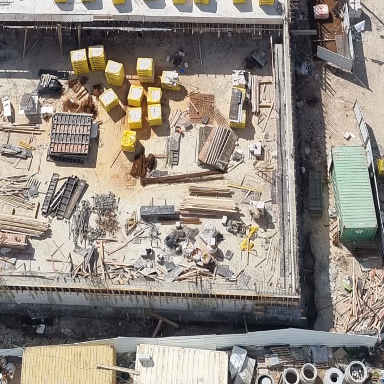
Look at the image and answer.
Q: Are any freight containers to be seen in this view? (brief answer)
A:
Yes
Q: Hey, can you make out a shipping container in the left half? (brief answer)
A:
No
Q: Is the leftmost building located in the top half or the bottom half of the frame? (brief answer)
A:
bottom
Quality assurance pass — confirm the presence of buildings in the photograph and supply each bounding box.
[134,343,229,384]
[22,344,121,384]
